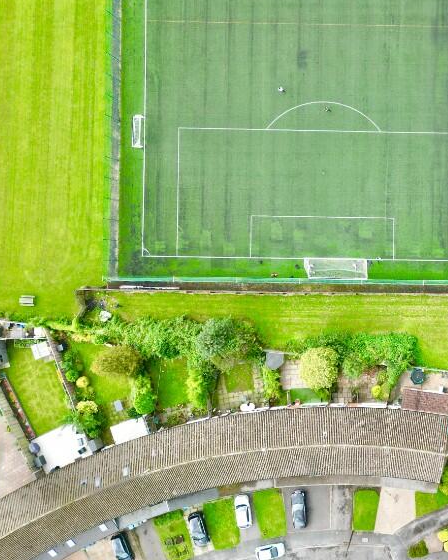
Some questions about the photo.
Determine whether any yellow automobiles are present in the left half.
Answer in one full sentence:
No, there's no yellow automobile to be seen in the left half.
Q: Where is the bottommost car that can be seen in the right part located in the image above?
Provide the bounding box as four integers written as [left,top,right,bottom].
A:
[254,541,286,560]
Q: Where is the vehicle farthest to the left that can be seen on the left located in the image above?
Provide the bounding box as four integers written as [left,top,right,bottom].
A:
[111,532,134,560]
